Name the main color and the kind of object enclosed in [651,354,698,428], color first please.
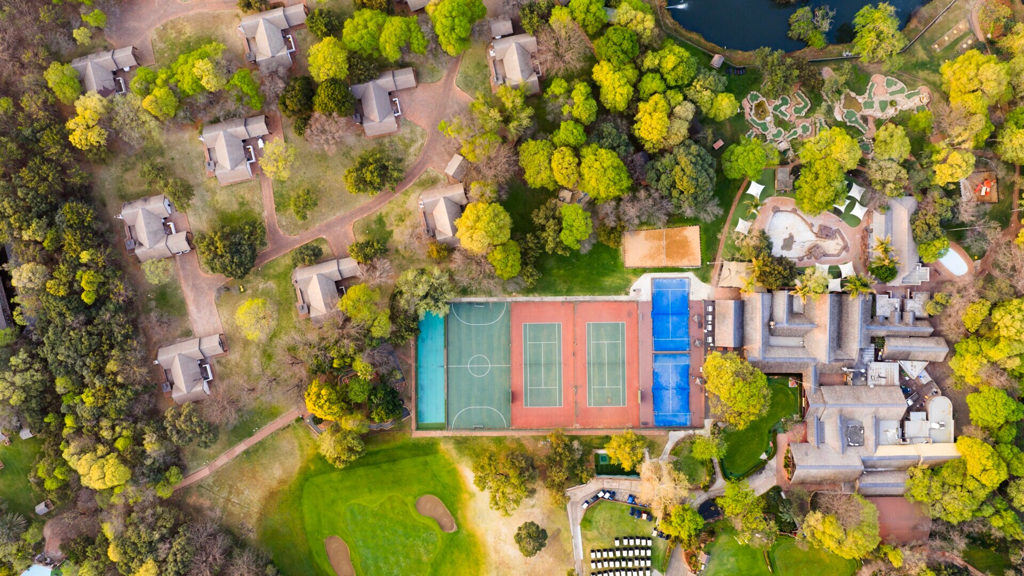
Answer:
blue sports court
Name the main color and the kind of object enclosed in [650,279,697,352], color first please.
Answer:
blue sports court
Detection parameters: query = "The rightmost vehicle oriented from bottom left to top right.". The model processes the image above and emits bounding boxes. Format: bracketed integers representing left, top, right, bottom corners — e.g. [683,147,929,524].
[905,390,923,407]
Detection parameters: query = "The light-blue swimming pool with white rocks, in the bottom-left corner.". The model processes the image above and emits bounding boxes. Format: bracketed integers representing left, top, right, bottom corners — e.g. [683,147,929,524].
[16,555,57,576]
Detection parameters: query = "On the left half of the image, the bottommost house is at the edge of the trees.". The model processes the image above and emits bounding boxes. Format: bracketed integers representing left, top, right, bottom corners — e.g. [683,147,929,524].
[36,490,69,516]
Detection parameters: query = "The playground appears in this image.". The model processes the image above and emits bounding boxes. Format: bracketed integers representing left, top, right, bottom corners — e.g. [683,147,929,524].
[959,170,1000,204]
